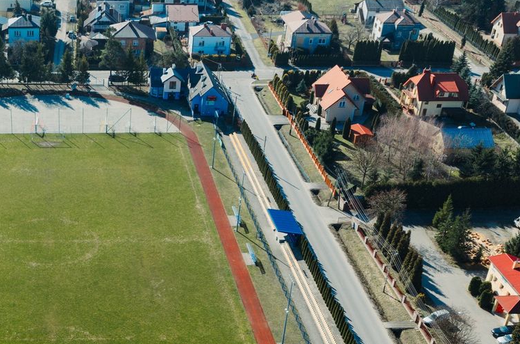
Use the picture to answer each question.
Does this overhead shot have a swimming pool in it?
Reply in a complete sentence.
No, I find no swimming pool anywhere in the image.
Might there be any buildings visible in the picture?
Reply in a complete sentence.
Yes, a building can be made out from above.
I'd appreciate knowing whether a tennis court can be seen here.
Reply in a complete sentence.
No, no tennis court is visible in the view.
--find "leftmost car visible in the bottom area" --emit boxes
[425,310,449,325]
